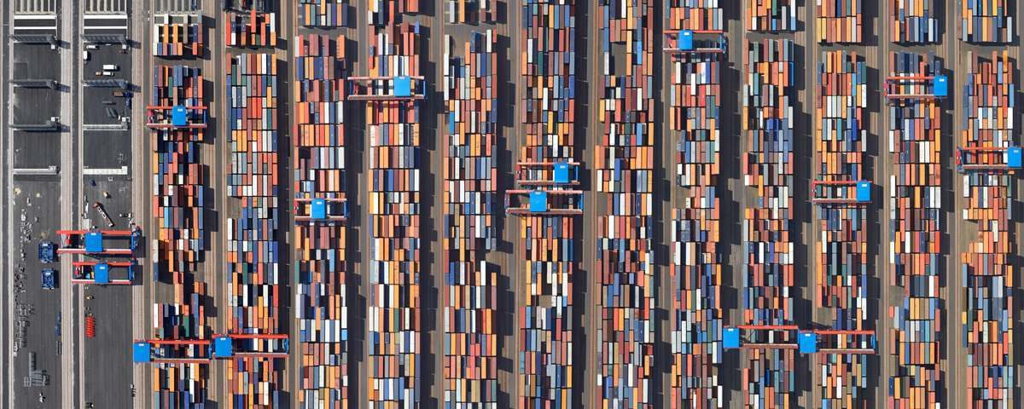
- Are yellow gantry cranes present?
No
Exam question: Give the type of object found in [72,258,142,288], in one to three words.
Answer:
container crane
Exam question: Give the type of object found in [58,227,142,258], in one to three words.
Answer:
container crane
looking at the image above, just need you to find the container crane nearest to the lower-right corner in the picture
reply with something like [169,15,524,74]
[797,325,879,357]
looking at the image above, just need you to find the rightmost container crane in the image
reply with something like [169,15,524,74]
[956,144,1024,175]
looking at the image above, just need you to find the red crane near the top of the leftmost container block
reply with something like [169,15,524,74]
[146,103,214,133]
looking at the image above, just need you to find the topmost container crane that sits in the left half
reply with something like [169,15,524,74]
[348,74,429,106]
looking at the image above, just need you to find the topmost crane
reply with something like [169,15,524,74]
[660,28,727,58]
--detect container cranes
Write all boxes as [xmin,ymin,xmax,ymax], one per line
[880,74,951,104]
[505,187,586,219]
[72,258,142,288]
[294,195,353,225]
[211,329,295,360]
[956,144,1024,175]
[58,227,142,258]
[133,336,216,366]
[348,74,429,106]
[721,321,798,351]
[660,28,727,58]
[516,159,584,190]
[797,325,879,357]
[808,177,876,207]
[146,103,214,133]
